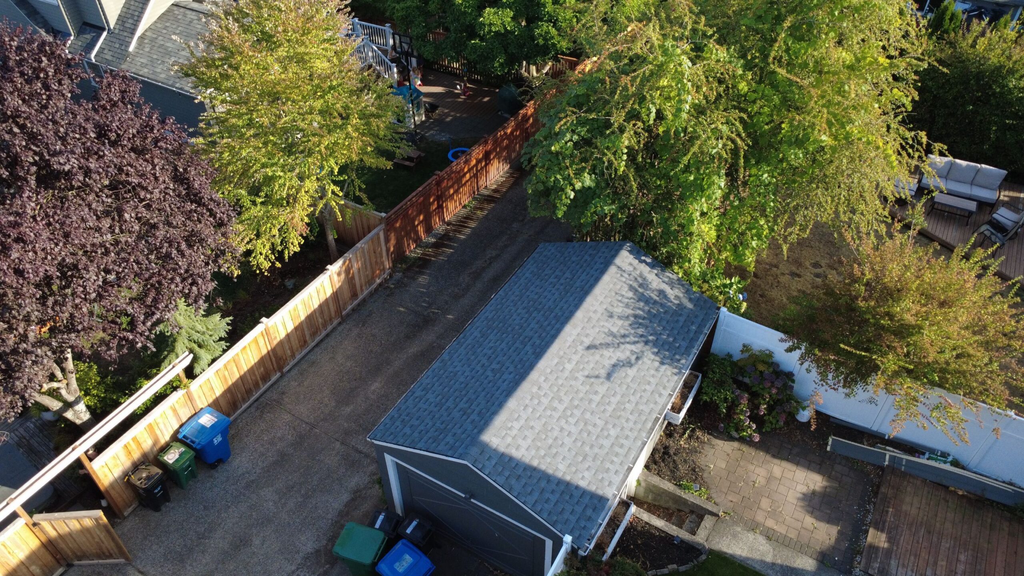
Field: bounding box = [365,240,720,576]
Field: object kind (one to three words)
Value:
building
